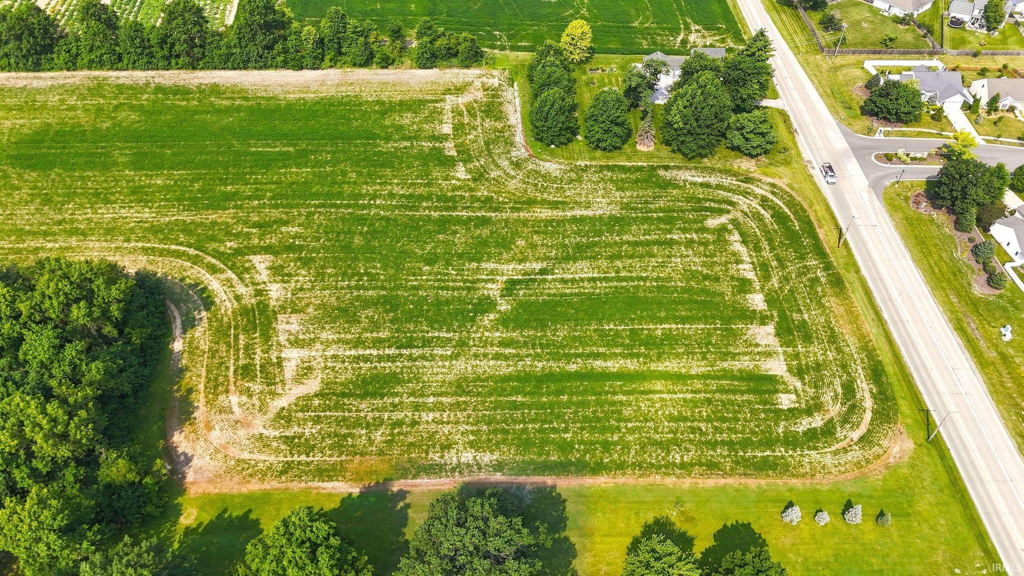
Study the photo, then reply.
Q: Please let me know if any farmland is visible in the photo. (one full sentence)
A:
Yes, there's farmland in this view.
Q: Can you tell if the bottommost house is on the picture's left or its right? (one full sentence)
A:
The bottommost house sits on the right side.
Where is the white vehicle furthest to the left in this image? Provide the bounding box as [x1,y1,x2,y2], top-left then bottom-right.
[821,165,837,183]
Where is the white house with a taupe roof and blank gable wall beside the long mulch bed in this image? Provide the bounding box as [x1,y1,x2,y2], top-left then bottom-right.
[988,201,1024,272]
